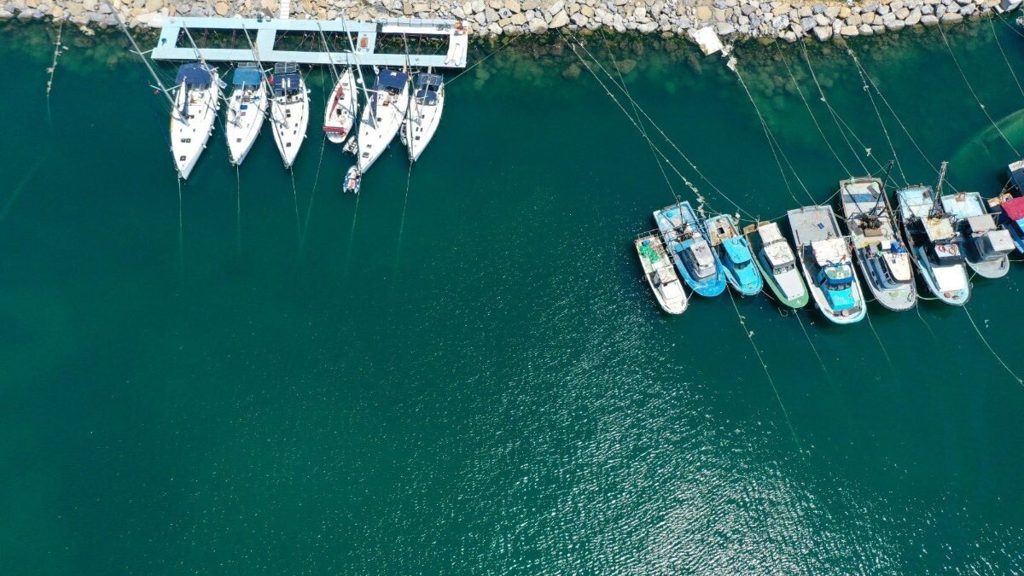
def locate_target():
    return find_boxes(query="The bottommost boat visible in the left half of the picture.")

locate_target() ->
[343,167,363,198]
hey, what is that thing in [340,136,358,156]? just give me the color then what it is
gray boat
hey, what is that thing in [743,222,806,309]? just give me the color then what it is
white boat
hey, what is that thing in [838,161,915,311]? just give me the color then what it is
white boat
